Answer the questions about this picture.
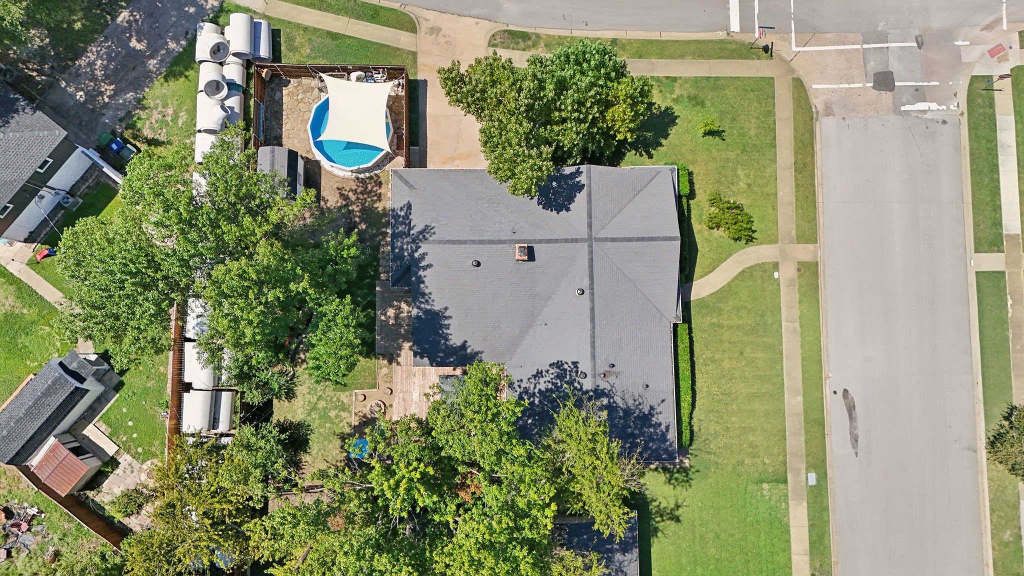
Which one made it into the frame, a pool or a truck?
pool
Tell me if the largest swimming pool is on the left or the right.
left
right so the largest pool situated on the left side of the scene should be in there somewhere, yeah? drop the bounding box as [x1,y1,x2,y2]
[307,95,396,174]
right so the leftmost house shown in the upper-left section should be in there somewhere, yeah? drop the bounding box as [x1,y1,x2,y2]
[0,69,99,241]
